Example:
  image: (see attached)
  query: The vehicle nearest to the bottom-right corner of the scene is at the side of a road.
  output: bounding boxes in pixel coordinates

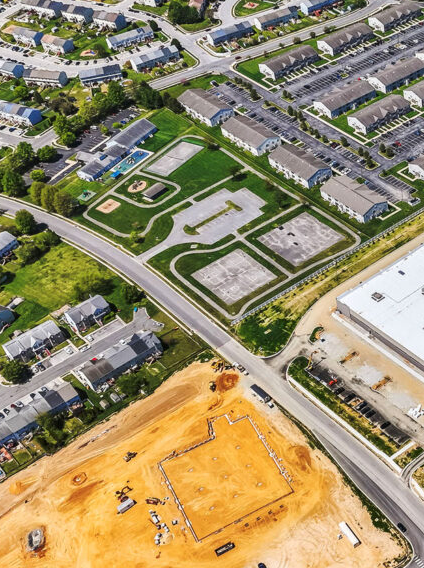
[396,520,408,534]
